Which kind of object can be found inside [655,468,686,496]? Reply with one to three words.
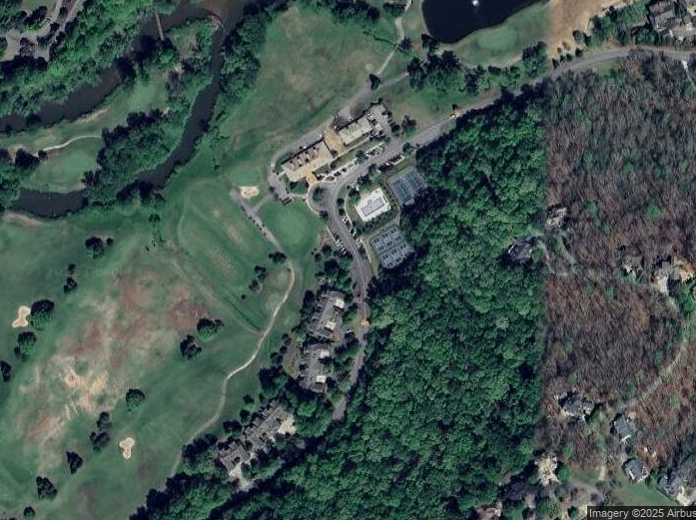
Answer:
house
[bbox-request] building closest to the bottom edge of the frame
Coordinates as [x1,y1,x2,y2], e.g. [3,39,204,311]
[475,502,503,520]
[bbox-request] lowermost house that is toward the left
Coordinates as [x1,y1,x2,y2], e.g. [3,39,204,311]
[219,436,250,468]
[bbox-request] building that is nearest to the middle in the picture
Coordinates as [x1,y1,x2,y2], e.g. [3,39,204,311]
[307,291,345,335]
